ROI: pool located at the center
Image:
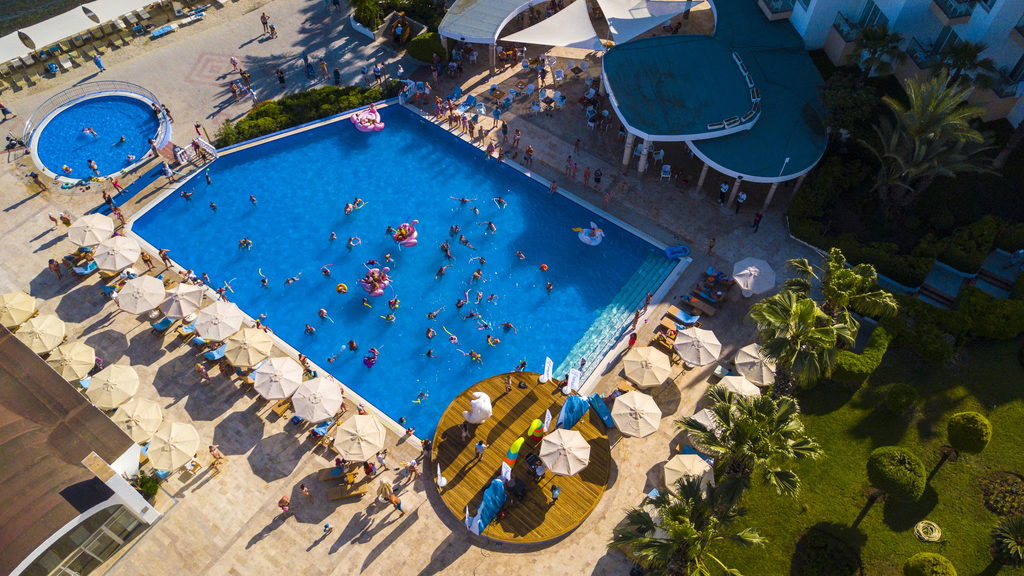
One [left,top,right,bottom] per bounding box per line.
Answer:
[132,104,680,437]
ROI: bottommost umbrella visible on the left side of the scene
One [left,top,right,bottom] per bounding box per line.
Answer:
[368,474,392,506]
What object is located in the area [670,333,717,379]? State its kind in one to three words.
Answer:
umbrella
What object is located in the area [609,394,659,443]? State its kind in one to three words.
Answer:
umbrella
